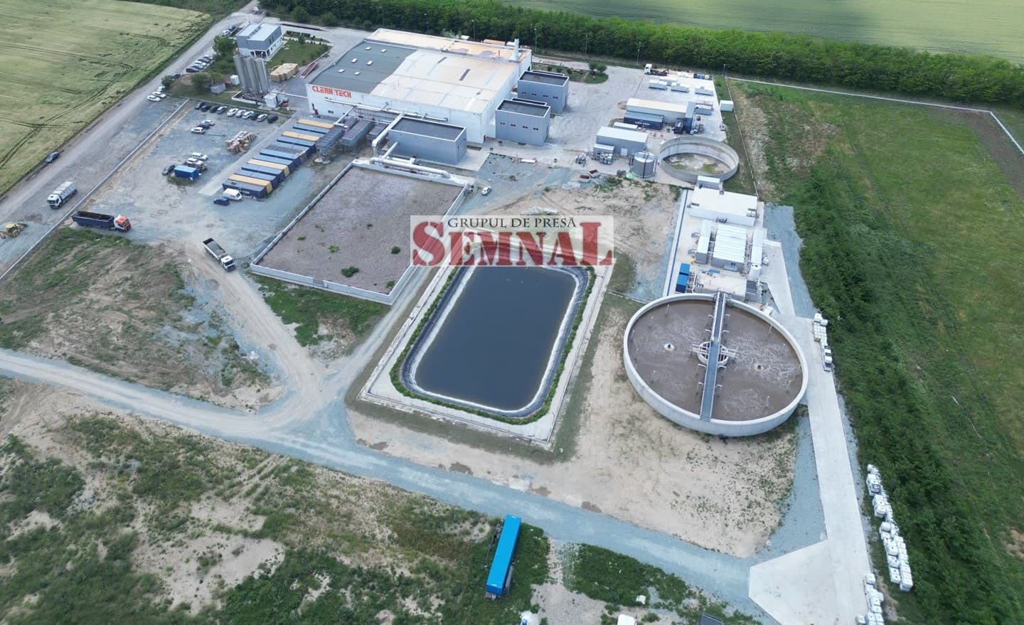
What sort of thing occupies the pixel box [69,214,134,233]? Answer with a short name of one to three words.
vehicle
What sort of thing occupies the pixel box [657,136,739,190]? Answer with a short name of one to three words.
storage tank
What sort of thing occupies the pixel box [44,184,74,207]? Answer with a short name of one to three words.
truck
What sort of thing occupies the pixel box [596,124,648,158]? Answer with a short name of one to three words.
shed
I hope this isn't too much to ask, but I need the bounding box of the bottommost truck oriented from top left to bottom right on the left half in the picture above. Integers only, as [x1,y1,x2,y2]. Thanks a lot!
[198,237,232,271]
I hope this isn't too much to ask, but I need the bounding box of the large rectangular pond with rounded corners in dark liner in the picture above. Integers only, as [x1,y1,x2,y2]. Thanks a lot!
[392,238,594,421]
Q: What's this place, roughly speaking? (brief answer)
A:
industrial area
